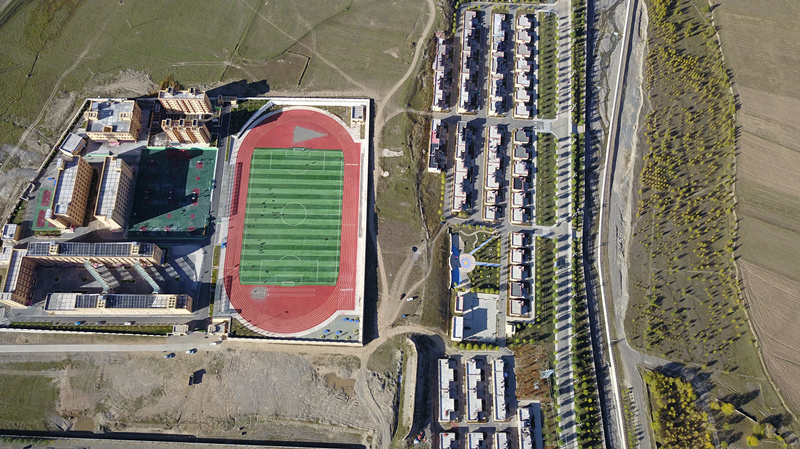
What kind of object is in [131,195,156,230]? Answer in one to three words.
basketball court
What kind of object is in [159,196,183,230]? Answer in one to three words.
basketball court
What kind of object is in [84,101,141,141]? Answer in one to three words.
building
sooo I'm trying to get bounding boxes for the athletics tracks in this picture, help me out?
[223,109,360,333]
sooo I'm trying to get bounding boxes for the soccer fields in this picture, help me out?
[238,147,343,286]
